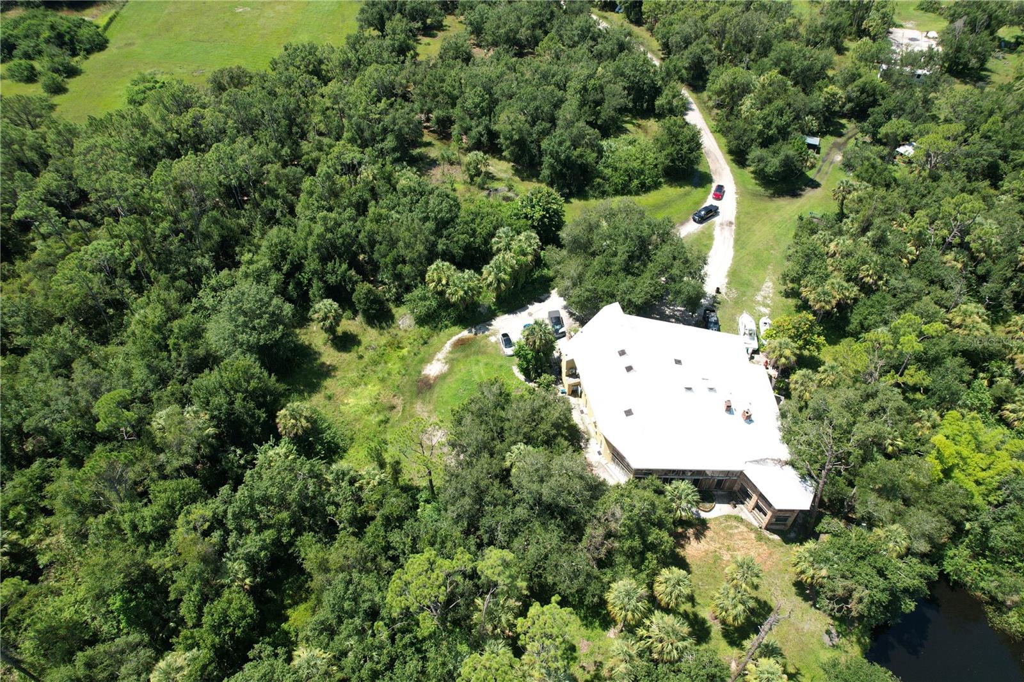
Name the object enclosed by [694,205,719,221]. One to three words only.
vehicle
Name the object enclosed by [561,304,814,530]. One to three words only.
house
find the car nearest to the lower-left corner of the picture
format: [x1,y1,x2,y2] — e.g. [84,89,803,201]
[498,334,516,356]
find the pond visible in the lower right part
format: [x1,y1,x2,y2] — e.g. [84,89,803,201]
[866,575,1024,682]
